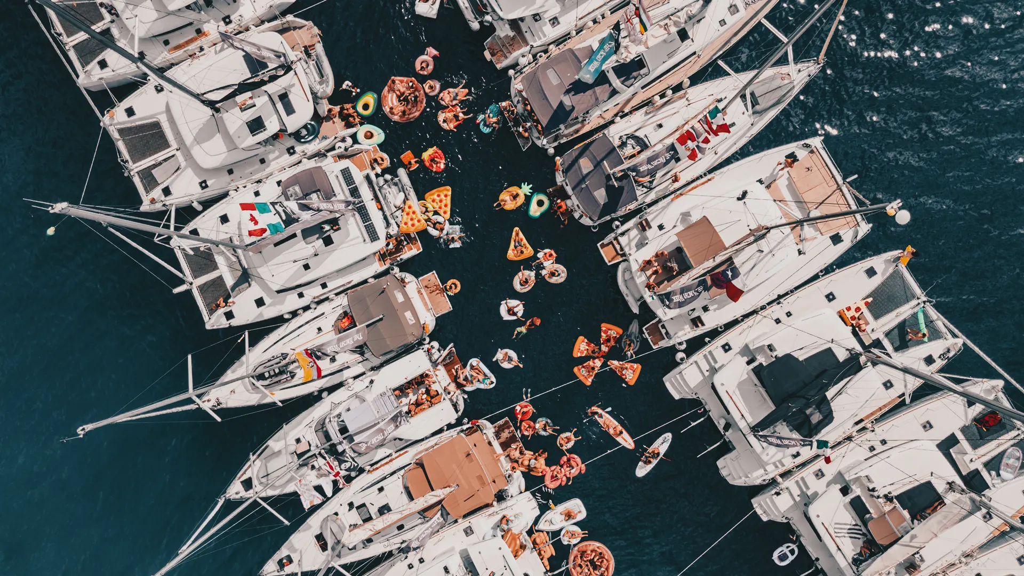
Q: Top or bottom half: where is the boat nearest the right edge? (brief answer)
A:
bottom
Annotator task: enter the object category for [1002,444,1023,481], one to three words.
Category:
boat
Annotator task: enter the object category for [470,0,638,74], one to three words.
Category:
boat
